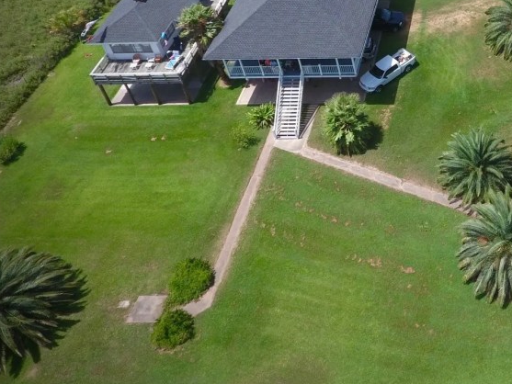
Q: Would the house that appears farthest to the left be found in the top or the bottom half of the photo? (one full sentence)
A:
The house that appears farthest to the left is in the top half of the image.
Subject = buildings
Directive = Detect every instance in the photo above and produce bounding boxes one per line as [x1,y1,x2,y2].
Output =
[204,0,388,137]
[85,0,237,105]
